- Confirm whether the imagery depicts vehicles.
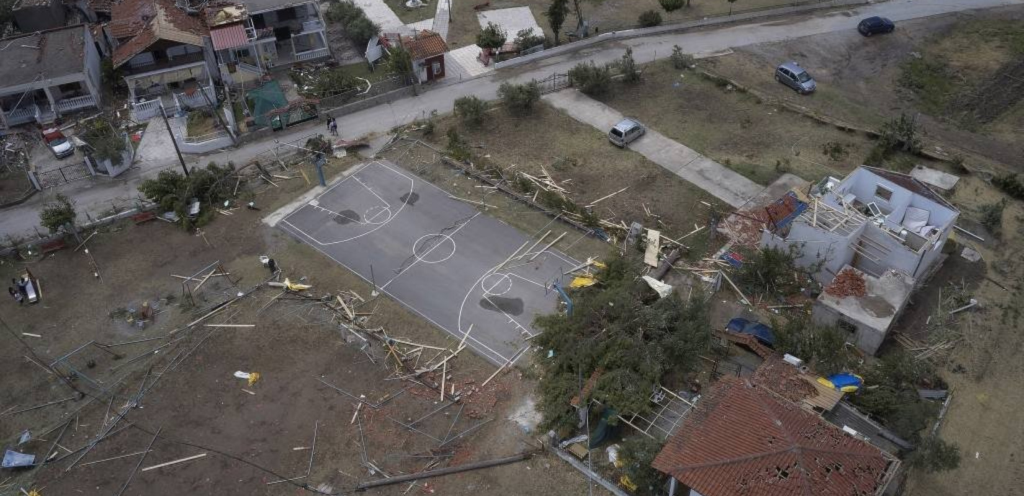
Yes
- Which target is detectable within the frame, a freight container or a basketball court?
basketball court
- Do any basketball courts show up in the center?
Yes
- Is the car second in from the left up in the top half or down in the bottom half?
top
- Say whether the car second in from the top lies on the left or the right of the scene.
right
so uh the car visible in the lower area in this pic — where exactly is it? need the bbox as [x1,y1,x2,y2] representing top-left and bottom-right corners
[727,318,783,350]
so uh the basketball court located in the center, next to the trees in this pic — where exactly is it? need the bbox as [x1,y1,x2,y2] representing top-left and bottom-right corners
[274,155,616,378]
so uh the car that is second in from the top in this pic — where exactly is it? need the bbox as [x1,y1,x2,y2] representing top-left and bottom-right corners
[777,65,815,93]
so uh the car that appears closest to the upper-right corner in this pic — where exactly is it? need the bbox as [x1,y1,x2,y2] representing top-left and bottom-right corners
[858,19,895,36]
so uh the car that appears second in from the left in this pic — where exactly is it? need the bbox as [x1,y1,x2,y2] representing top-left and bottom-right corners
[608,121,648,147]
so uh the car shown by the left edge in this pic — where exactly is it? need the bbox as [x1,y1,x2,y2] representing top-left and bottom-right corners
[41,131,69,159]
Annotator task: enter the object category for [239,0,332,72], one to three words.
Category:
house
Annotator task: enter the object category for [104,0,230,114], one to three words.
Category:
house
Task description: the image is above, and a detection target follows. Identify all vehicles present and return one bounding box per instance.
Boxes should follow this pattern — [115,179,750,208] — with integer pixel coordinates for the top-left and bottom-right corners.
[858,19,895,36]
[727,318,783,350]
[777,65,815,93]
[608,121,648,147]
[41,131,69,159]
